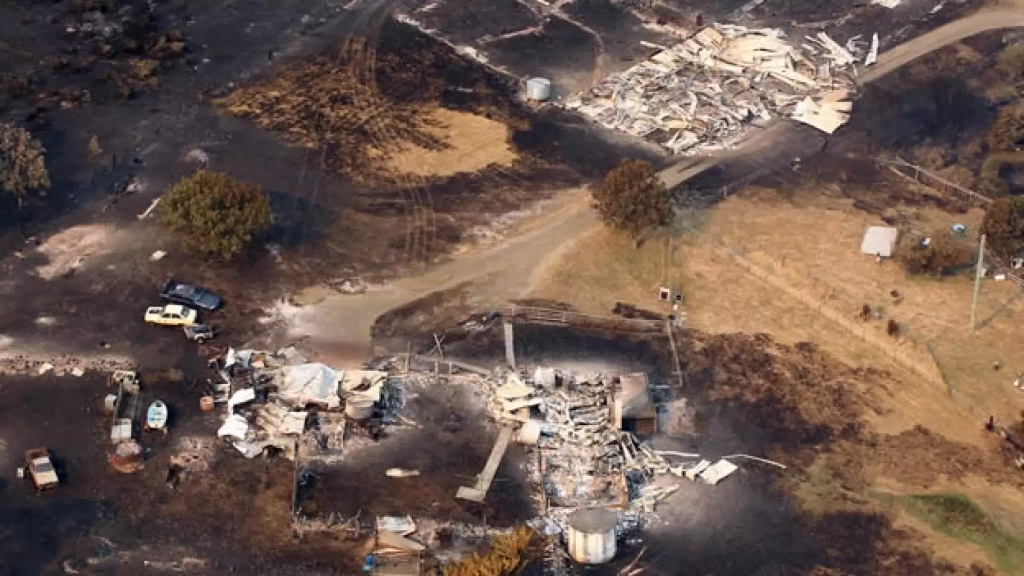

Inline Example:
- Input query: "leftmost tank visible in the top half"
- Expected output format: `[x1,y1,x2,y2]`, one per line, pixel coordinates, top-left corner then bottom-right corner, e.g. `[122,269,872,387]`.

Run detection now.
[526,76,550,100]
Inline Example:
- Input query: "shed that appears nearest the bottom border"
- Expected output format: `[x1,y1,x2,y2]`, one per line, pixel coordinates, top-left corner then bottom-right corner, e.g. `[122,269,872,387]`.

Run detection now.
[364,516,426,576]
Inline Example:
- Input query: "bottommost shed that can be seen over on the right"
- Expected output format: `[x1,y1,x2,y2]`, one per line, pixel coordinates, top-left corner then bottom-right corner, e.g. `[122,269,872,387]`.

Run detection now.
[619,370,658,431]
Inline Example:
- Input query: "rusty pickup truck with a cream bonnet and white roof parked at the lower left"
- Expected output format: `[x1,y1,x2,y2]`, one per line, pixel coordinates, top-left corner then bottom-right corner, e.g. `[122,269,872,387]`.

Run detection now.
[25,447,57,492]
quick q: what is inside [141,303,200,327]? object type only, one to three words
car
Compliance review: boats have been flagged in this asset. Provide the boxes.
[145,393,165,432]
